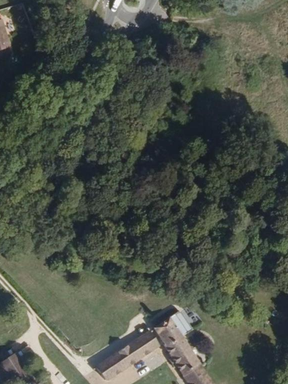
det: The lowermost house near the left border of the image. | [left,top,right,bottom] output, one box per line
[1,353,26,378]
